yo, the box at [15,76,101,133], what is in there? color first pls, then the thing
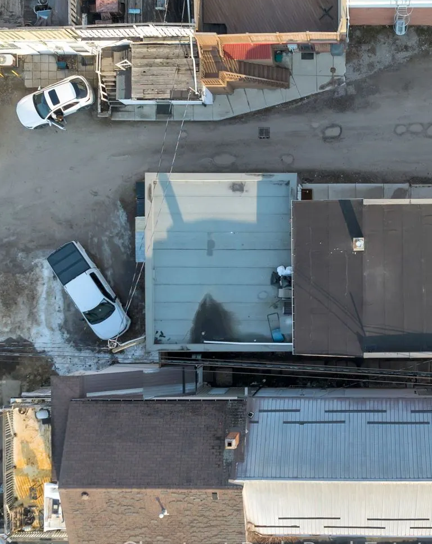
white car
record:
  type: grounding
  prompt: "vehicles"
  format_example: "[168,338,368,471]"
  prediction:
[47,239,130,338]
[15,76,101,133]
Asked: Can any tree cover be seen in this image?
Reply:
No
